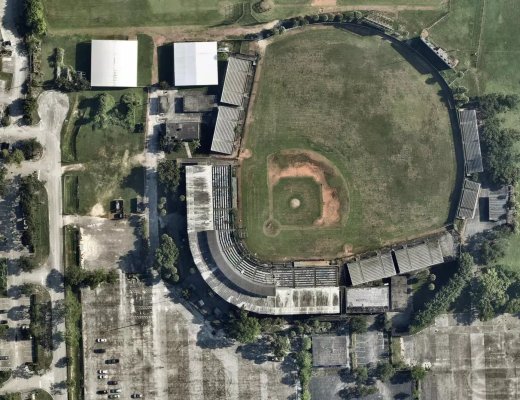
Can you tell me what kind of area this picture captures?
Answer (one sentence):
What you see here is a sports ground.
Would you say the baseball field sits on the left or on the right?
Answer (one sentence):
You can find the baseball field on the right side of the picture.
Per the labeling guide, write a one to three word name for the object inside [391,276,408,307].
building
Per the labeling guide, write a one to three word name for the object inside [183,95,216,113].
building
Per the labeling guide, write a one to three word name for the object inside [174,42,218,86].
shed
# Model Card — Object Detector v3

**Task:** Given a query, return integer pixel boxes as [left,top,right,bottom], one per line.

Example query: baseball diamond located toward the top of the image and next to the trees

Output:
[237,25,461,264]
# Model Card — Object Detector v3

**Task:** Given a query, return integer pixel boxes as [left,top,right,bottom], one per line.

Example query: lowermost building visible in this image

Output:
[312,335,348,366]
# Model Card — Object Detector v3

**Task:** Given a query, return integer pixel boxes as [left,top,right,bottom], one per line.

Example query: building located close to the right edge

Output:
[488,193,508,221]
